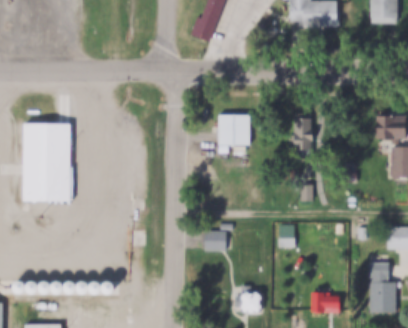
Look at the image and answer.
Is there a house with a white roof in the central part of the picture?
Yes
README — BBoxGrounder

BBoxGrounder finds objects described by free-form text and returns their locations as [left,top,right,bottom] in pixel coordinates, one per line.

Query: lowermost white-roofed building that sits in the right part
[234,292,262,316]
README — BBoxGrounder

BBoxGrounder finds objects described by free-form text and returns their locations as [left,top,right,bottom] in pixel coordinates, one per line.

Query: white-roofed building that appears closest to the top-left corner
[24,122,75,202]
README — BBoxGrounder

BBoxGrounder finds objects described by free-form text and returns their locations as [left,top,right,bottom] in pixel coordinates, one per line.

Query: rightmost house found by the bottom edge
[370,255,398,316]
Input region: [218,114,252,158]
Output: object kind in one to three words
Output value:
house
